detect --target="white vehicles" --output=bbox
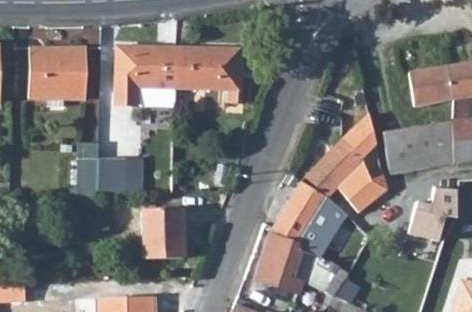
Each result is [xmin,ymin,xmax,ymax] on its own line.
[247,285,272,302]
[182,196,203,206]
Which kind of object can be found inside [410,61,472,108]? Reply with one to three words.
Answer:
house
